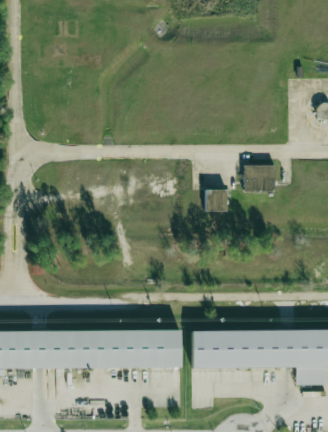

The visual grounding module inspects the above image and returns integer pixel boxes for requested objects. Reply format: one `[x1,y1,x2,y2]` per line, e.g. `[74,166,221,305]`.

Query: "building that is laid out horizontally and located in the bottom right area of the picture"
[192,330,328,386]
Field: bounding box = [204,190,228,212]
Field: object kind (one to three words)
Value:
building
